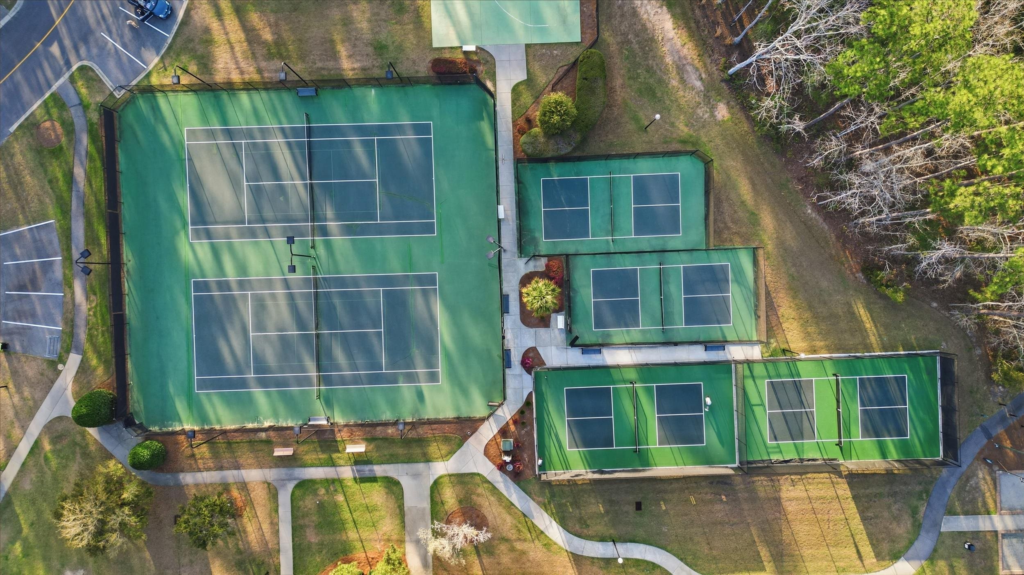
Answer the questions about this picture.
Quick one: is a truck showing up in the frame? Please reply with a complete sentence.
No, I can see no truck in this picture.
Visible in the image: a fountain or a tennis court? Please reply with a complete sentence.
The image shows a tennis court.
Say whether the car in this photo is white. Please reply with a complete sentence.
No, the car is blue.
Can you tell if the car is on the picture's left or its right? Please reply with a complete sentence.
The car appears in the left half of the scene.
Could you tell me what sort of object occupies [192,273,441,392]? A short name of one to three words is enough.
tennis court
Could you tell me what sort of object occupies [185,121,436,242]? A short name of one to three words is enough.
tennis court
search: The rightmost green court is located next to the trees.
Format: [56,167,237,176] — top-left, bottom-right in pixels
[734,352,941,465]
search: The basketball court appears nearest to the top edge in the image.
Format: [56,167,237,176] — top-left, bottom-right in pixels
[431,0,581,47]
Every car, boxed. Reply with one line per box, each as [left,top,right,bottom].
[131,0,172,24]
